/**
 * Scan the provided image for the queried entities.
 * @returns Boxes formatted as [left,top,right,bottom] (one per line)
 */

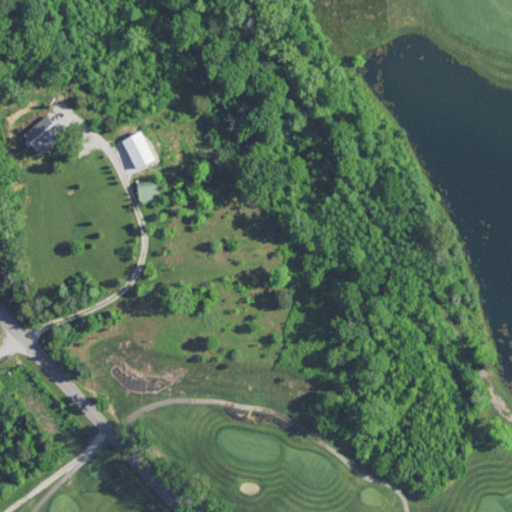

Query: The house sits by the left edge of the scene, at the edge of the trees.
[22,114,56,152]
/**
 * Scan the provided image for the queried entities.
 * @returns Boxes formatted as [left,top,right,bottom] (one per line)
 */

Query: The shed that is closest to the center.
[137,182,158,203]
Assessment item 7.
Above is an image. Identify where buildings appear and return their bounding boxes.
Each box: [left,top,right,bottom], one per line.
[122,132,155,169]
[137,182,158,203]
[22,114,56,152]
